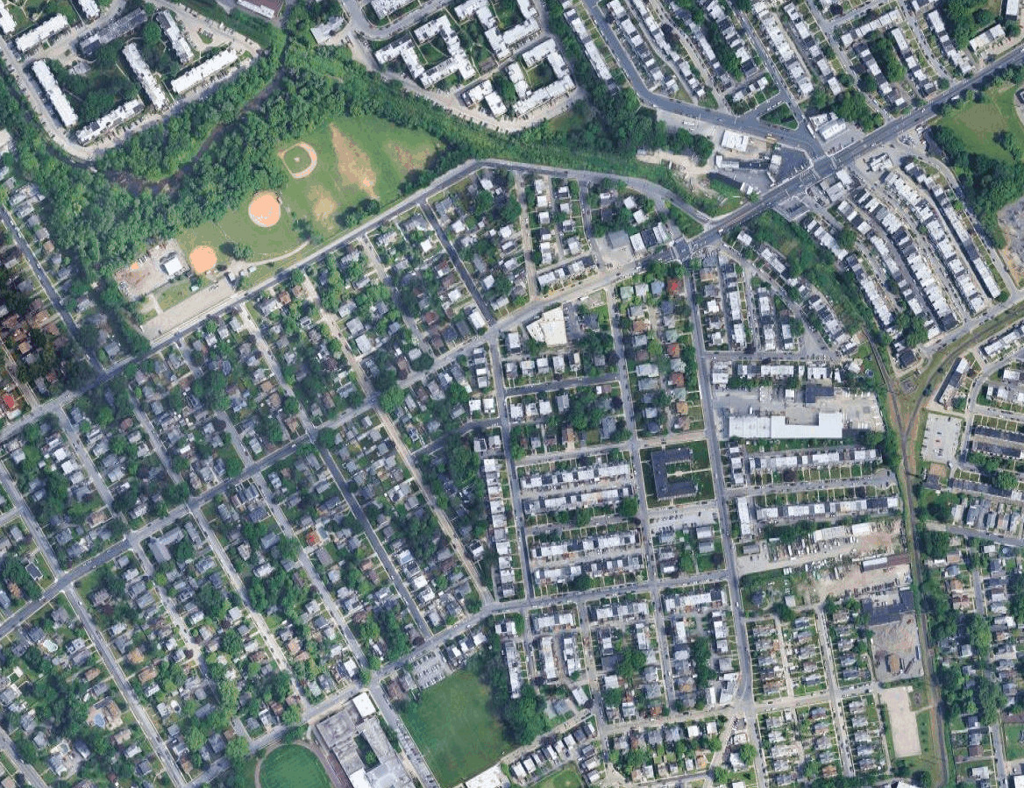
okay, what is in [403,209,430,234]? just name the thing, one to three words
house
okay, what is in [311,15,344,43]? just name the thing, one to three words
building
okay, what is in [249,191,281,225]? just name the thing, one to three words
baseball field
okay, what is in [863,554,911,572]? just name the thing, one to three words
shed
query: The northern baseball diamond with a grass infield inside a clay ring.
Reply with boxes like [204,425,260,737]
[279,142,317,178]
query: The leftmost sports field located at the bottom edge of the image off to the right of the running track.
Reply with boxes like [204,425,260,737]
[401,670,512,788]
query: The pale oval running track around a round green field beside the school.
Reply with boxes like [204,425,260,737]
[256,742,334,788]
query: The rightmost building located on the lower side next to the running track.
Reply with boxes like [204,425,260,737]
[317,693,414,788]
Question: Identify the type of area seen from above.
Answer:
residential area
